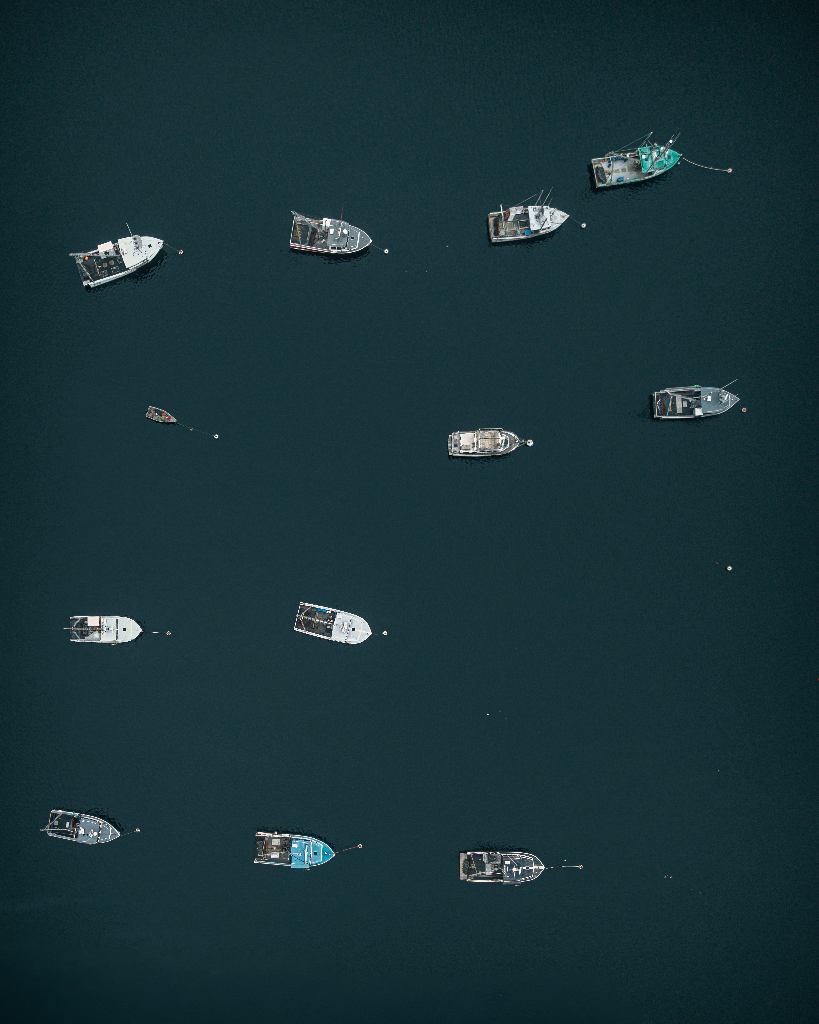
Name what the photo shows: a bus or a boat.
boat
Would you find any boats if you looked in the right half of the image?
Yes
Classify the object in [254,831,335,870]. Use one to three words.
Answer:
boat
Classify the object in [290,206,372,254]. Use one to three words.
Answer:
boat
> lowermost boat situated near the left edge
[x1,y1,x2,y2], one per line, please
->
[40,809,120,845]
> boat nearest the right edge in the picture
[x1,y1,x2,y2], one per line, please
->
[650,379,740,418]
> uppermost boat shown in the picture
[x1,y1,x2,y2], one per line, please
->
[590,129,683,189]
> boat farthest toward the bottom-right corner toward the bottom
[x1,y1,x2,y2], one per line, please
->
[460,849,545,886]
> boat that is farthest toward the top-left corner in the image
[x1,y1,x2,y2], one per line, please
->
[69,223,164,288]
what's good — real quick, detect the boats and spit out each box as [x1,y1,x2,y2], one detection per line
[40,809,120,845]
[590,129,683,189]
[650,379,740,418]
[449,428,524,456]
[460,849,545,886]
[254,831,335,870]
[69,223,164,288]
[64,615,142,645]
[290,206,372,254]
[488,187,569,241]
[294,602,372,643]
[144,406,176,423]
